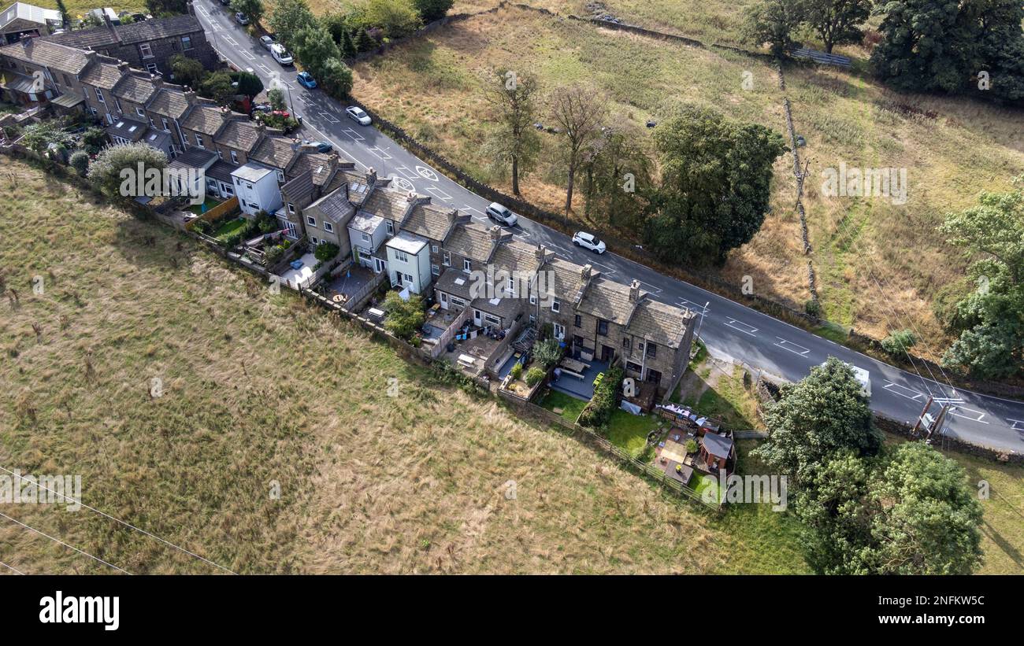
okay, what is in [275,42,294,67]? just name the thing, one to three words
vehicle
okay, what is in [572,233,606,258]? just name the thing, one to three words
car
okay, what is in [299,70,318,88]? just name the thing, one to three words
car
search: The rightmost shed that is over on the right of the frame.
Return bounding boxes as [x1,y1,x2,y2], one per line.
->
[699,427,736,469]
